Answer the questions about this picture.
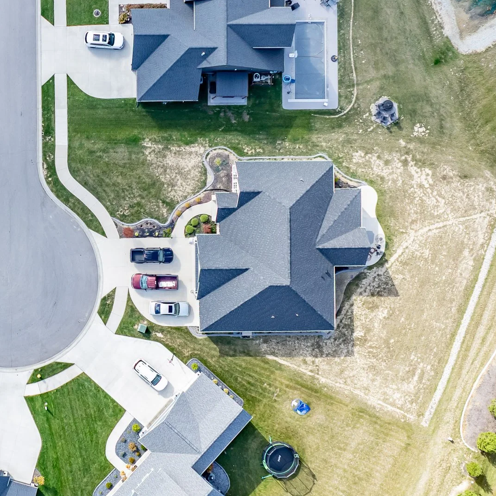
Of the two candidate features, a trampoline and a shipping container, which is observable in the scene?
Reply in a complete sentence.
It is a trampoline that can be seen here.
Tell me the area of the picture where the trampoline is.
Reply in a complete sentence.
The trampoline appears toward the bottom of the photo.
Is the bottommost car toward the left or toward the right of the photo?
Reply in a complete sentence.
It is on the left.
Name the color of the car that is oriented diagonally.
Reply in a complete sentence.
The car that is oriented diagonally looks white in the image.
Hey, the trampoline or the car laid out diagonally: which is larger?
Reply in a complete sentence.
Of the two, the trampoline is larger and the car is the smaller one.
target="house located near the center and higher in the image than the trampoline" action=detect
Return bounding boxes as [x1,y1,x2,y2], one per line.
[189,161,371,332]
